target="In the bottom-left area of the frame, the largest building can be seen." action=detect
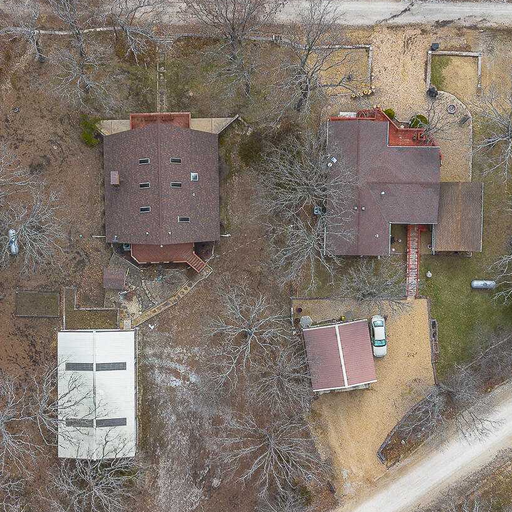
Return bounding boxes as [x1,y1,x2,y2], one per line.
[58,331,136,460]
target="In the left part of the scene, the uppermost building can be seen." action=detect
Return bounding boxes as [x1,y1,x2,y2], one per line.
[90,123,230,245]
